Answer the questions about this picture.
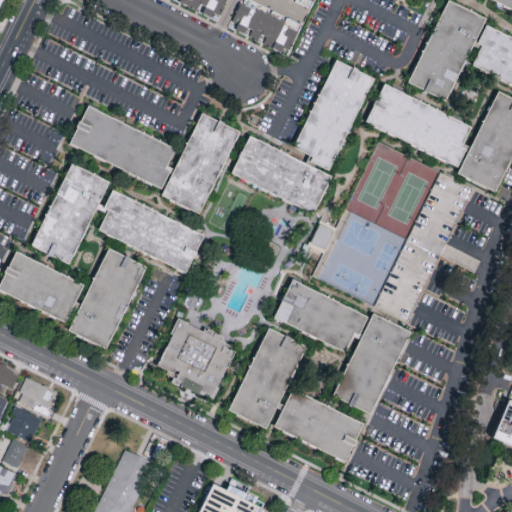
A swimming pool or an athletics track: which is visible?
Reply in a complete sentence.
I can see a swimming pool in this picture.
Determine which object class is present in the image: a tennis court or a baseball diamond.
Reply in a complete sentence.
It is a tennis court that can be seen here.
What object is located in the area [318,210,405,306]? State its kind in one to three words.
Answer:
sports court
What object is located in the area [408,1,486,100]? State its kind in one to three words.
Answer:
building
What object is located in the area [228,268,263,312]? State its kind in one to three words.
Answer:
swimming pool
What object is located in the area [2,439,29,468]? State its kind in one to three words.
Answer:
house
